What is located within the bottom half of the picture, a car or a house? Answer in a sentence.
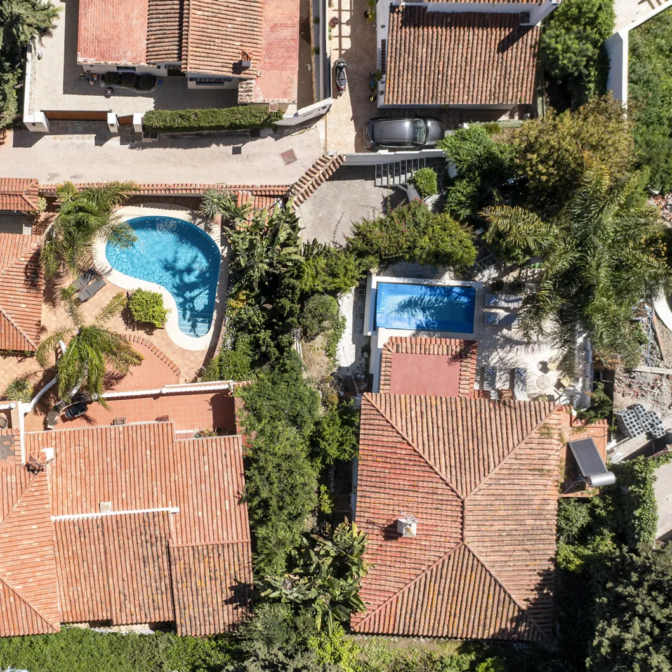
It is a house that can be seen within the bottom half of the picture.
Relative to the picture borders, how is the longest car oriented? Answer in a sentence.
The longest car has been laid out horizontally relative to the frame.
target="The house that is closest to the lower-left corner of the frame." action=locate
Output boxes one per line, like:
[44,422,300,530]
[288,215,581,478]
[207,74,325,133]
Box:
[0,419,255,638]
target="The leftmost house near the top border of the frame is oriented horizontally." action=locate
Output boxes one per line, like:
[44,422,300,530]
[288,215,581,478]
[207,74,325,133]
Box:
[76,0,300,109]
